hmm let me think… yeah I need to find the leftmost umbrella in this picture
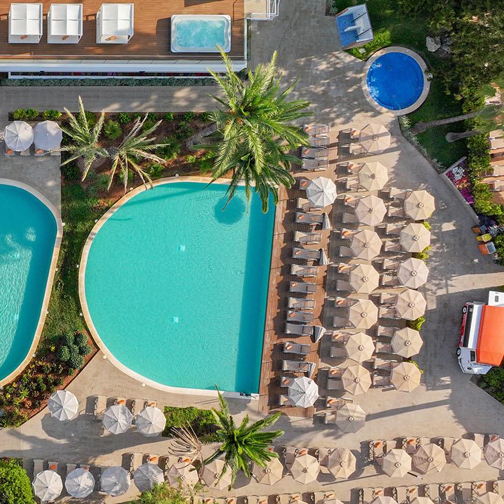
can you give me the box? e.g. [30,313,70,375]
[5,121,34,150]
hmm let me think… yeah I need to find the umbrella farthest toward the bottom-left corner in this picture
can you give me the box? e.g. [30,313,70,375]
[34,470,62,500]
